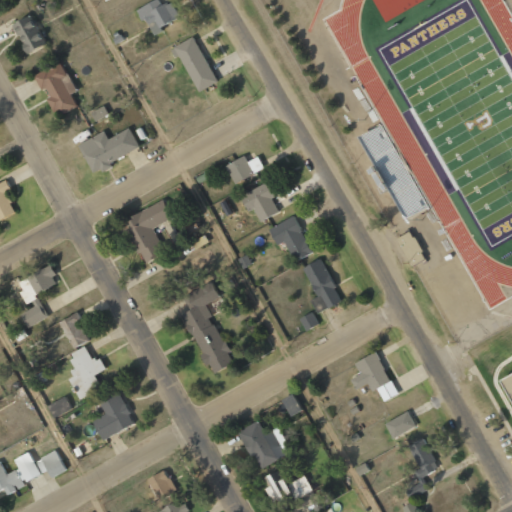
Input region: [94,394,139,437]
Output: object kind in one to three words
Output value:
house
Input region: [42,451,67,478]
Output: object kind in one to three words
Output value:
building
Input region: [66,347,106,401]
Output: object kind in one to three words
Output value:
house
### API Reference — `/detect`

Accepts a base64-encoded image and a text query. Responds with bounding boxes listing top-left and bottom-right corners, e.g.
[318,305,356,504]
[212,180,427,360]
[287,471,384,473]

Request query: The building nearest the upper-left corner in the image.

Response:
[14,14,48,53]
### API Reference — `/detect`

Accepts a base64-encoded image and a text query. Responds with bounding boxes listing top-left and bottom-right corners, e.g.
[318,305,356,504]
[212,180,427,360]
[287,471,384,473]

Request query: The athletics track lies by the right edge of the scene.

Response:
[324,0,512,307]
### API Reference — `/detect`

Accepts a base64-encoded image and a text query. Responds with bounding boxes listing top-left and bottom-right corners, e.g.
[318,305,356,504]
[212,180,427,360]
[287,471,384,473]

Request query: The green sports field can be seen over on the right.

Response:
[360,0,512,264]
